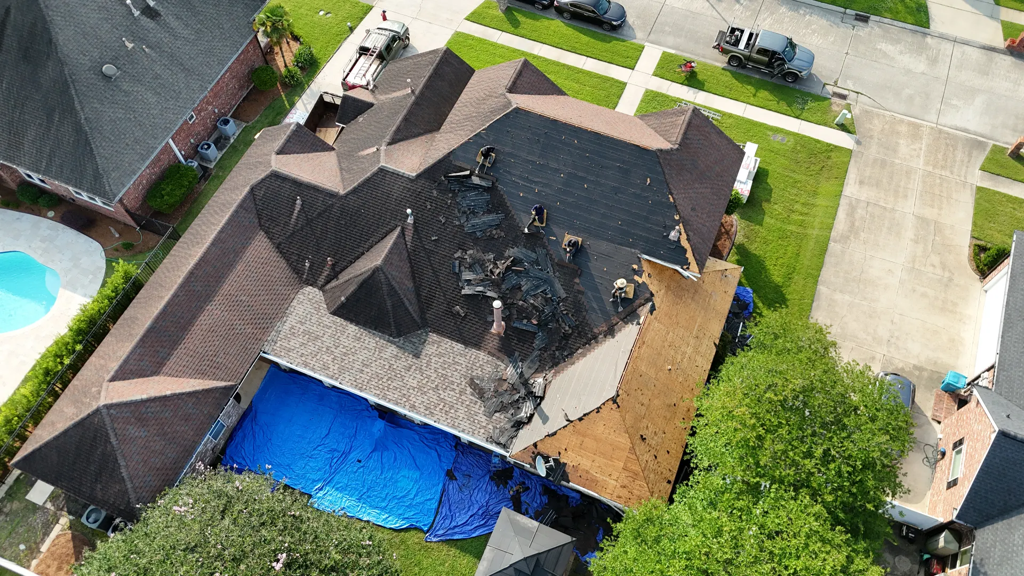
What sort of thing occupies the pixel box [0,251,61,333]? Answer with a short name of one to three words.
swimming pool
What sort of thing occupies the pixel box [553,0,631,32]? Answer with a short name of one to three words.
car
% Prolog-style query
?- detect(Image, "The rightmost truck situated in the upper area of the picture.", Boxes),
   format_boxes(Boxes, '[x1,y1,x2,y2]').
[710,27,818,85]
